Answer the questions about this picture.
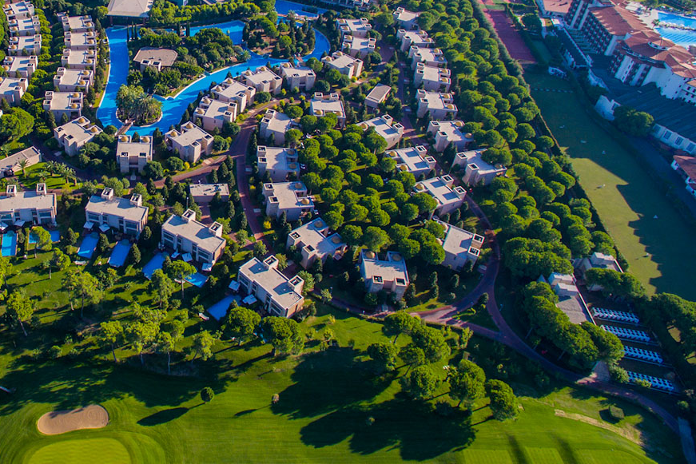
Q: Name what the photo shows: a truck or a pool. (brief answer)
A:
pool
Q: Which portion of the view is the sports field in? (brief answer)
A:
right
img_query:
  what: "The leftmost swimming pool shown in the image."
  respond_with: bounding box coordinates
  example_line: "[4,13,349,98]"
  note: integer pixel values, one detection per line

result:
[0,230,19,257]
